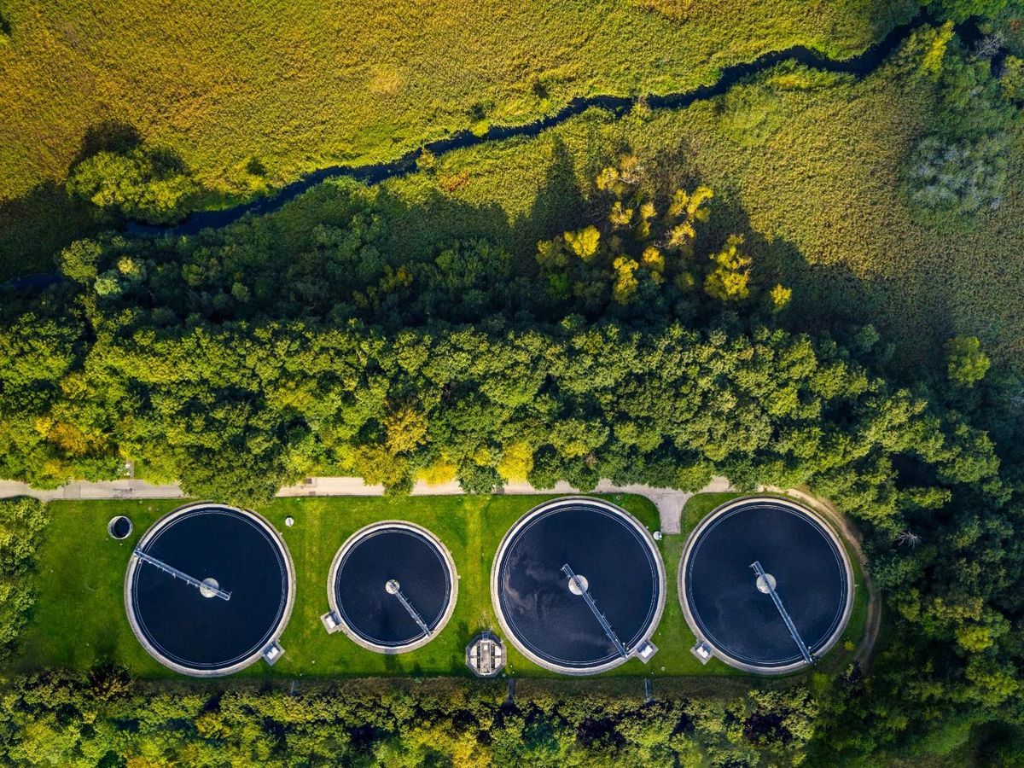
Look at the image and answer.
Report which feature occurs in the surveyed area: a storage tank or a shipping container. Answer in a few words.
storage tank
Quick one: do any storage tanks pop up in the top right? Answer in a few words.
No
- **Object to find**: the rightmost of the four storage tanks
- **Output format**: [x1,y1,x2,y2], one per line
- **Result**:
[678,498,855,675]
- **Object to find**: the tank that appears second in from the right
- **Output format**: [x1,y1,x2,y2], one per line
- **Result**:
[490,498,666,675]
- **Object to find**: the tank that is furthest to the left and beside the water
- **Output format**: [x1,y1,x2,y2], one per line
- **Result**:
[123,504,296,676]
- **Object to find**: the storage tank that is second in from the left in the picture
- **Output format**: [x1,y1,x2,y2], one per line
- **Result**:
[320,521,459,654]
